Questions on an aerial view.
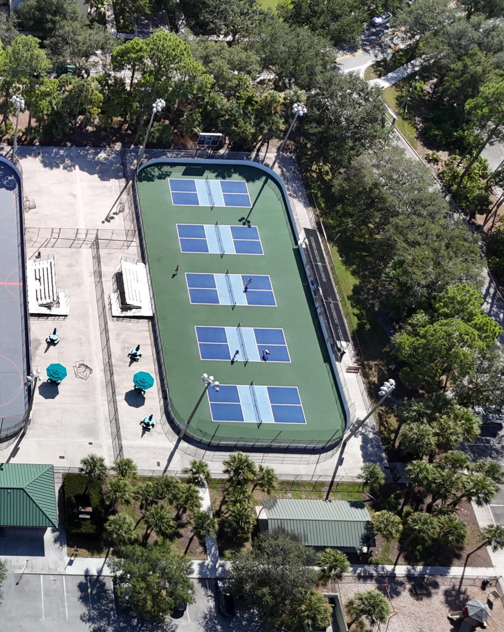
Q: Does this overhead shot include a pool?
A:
No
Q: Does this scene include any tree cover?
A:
Yes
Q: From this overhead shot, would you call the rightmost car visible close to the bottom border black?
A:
Yes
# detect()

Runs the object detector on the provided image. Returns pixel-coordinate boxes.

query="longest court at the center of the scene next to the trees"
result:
[135,156,345,449]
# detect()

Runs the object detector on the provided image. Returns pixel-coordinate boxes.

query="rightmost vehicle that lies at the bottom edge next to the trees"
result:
[215,578,240,616]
